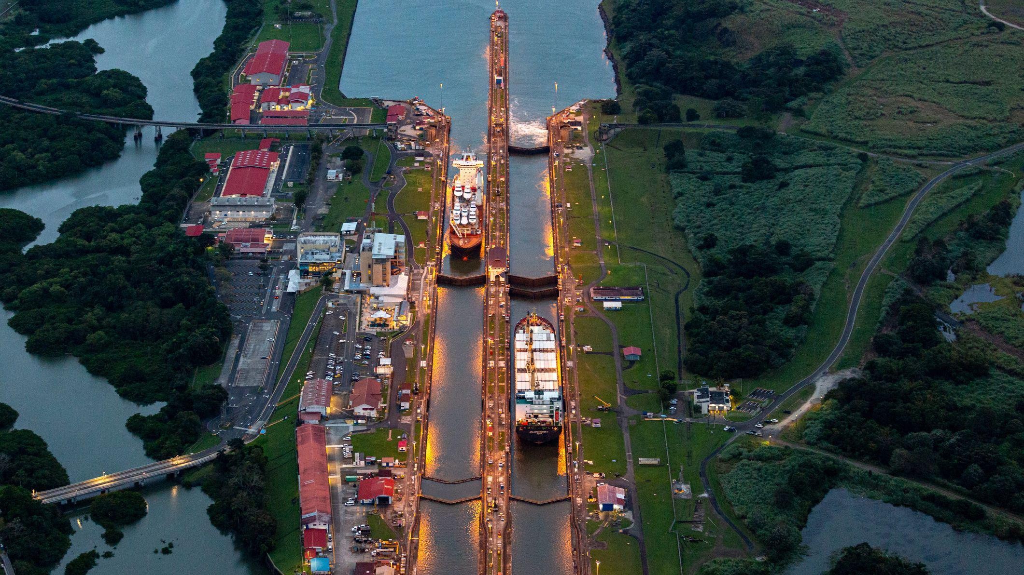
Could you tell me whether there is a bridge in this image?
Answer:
Yes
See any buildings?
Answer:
Yes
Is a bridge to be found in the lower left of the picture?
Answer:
Yes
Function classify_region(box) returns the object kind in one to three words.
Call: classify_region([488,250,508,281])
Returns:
building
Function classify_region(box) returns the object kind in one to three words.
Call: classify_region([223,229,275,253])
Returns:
building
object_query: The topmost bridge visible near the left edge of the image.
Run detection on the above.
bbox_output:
[0,95,387,139]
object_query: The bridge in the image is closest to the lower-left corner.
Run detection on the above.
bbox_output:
[0,444,227,519]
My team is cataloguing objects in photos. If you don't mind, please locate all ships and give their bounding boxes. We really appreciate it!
[514,306,562,440]
[450,150,485,255]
